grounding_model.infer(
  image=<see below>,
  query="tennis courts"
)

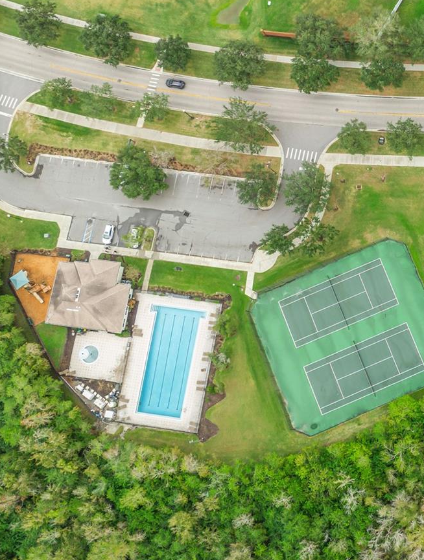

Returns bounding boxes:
[278,258,399,347]
[304,322,424,415]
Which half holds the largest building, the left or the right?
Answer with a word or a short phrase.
left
